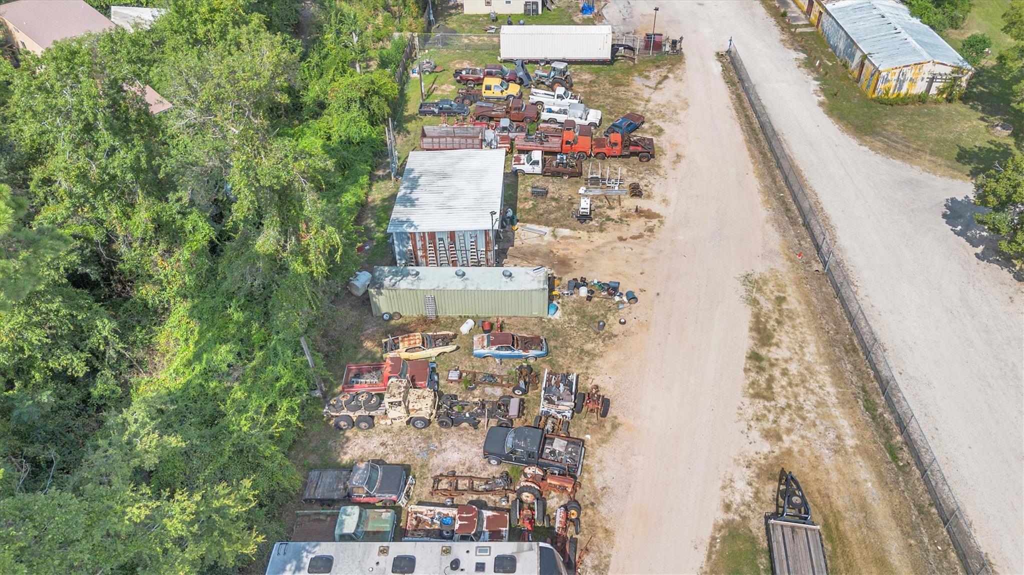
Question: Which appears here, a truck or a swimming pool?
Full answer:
Looking from above, you can make out a truck.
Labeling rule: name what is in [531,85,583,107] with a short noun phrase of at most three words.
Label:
truck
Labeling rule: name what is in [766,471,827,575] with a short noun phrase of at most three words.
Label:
trailer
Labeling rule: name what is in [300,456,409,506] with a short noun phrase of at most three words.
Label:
truck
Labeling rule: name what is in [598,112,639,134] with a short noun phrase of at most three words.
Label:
car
